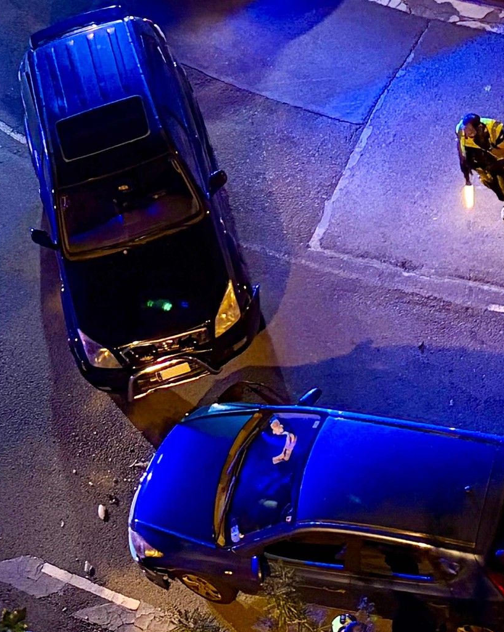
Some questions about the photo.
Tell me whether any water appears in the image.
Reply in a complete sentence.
No, water can't be seen anywhere here.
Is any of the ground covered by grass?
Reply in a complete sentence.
No, grass can't be seen anywhere here.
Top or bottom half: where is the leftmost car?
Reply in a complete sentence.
Seen from above, the leftmost car lies in the top half of the view.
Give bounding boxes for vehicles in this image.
[127,396,504,632]
[23,0,258,408]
